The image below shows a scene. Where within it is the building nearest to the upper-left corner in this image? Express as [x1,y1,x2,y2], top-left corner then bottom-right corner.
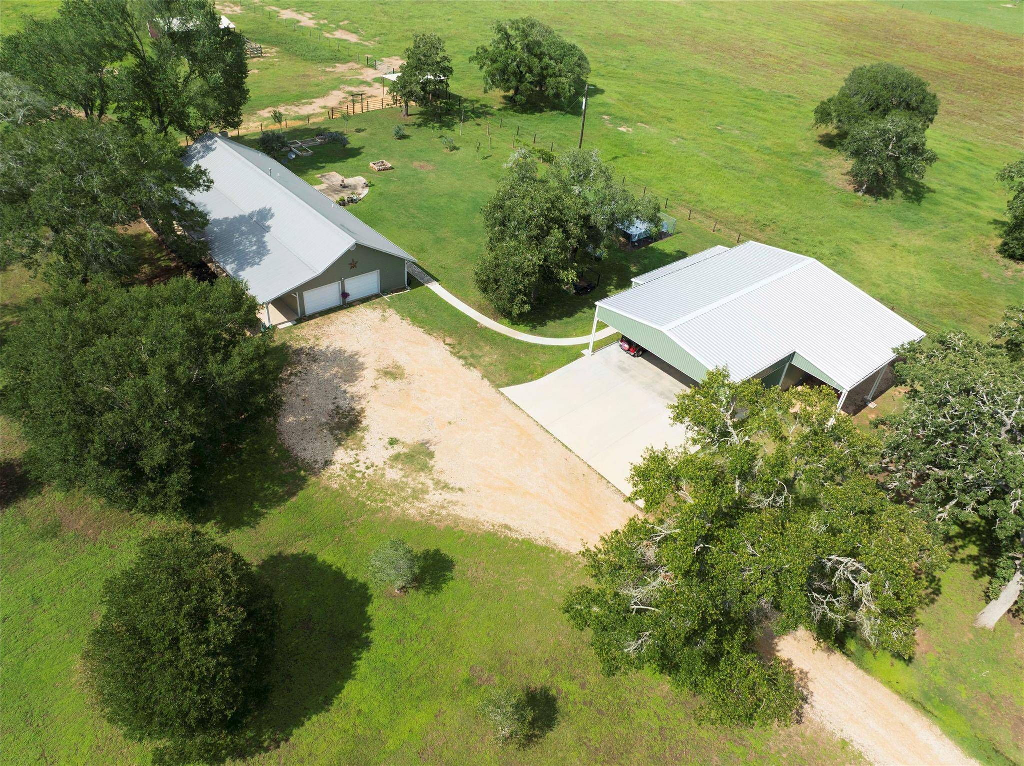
[196,15,237,49]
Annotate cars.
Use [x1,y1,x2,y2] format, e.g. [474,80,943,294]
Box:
[616,339,641,358]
